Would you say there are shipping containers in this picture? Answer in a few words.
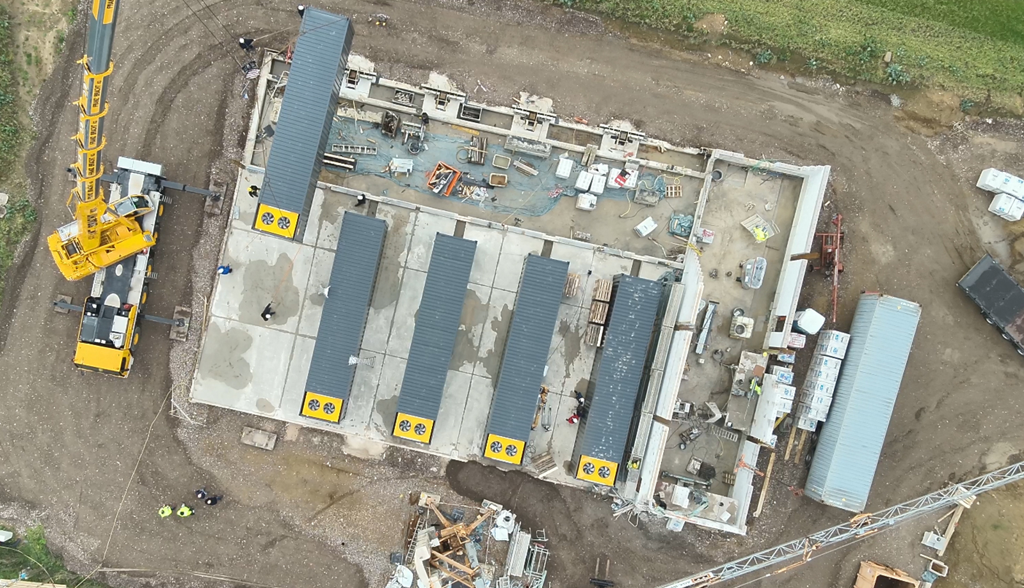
Yes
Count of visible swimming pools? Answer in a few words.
0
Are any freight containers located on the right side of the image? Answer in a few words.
Yes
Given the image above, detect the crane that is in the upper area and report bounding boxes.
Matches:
[39,0,223,378]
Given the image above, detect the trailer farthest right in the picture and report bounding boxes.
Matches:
[953,253,1024,362]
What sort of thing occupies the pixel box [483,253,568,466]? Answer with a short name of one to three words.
shipping container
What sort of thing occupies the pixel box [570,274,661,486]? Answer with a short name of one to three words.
shipping container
